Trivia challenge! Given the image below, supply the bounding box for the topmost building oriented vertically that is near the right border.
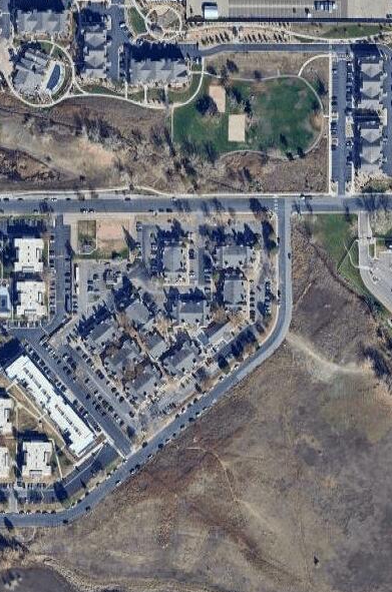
[360,56,385,112]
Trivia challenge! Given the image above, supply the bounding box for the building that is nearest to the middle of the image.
[175,298,209,323]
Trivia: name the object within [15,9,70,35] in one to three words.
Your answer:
building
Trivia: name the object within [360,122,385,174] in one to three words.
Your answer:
building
